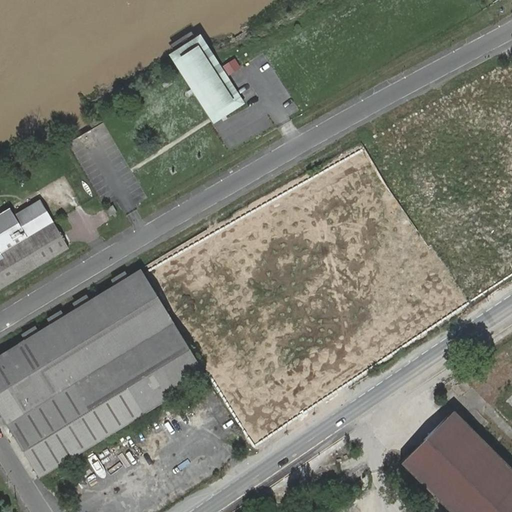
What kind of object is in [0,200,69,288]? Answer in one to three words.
building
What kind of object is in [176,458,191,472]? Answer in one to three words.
vehicle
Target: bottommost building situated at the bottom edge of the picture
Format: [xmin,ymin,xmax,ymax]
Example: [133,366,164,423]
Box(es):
[403,412,512,512]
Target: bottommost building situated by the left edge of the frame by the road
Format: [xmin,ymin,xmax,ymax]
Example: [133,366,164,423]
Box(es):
[0,269,204,478]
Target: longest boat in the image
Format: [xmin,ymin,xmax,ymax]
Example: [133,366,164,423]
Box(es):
[86,454,106,478]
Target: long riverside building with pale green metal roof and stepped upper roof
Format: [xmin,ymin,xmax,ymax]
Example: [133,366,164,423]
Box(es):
[168,31,245,122]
